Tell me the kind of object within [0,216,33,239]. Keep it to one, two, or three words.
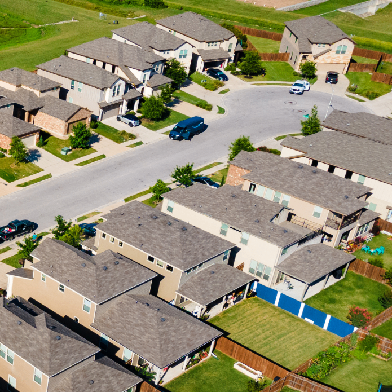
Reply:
truck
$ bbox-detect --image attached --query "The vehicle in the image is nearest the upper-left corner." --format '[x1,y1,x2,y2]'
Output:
[113,114,137,127]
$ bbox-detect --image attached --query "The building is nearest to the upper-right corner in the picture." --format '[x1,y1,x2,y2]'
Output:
[284,22,358,74]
